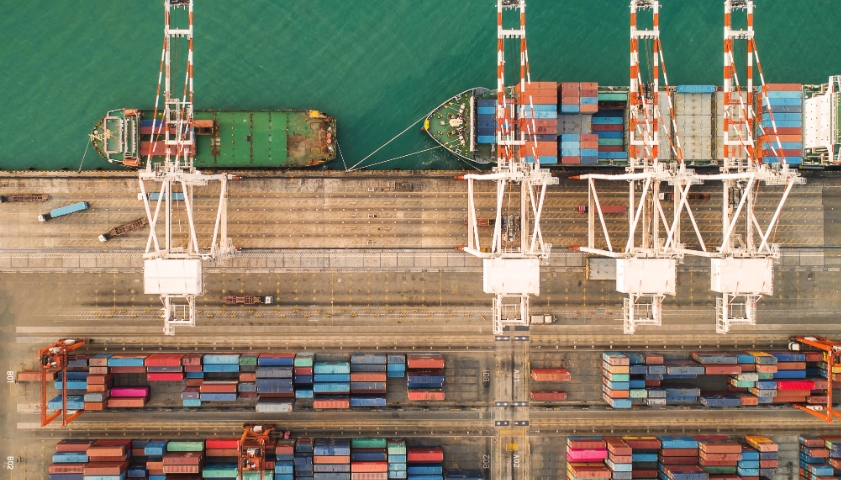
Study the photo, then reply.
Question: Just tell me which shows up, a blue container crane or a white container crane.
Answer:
white container crane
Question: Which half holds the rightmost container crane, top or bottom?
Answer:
bottom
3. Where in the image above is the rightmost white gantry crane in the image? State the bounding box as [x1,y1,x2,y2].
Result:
[659,0,807,337]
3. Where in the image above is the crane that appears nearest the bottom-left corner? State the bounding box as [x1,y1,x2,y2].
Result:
[35,340,91,431]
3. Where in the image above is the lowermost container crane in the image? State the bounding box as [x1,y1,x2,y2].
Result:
[234,423,278,480]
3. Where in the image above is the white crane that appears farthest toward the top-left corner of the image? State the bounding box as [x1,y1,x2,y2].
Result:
[137,0,246,339]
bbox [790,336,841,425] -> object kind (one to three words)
container crane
